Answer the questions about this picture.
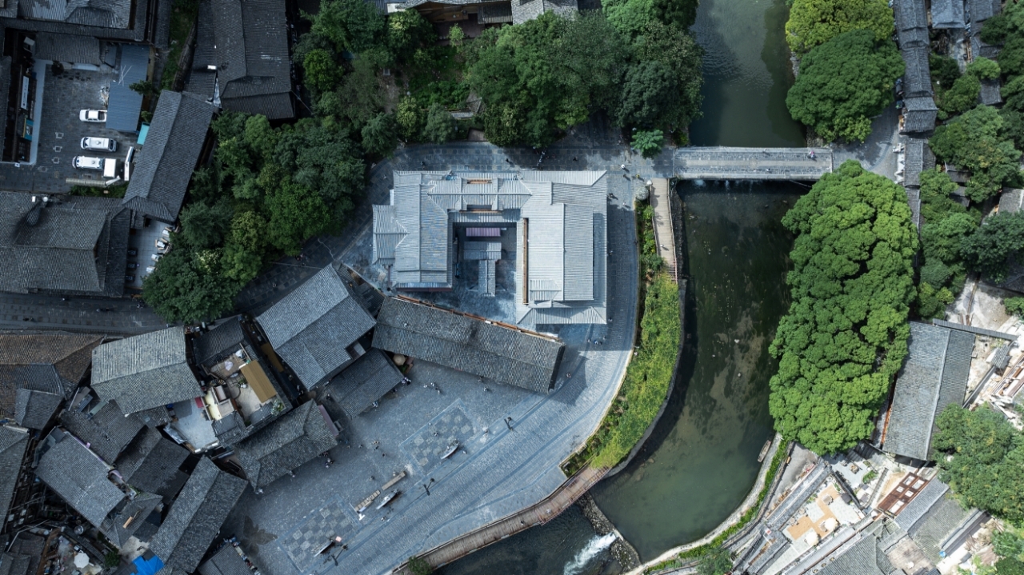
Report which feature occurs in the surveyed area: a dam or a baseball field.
dam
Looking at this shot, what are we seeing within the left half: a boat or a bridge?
boat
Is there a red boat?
No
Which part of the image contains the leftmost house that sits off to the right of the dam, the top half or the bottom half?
bottom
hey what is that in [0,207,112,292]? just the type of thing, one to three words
house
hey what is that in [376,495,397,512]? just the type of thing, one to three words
boat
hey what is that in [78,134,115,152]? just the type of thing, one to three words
vehicle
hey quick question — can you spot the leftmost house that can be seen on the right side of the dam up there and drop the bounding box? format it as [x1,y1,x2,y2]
[755,462,833,532]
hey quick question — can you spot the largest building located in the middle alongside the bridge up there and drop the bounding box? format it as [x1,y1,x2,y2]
[372,169,607,325]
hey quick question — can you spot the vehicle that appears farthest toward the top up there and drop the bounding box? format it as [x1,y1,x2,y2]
[76,106,107,123]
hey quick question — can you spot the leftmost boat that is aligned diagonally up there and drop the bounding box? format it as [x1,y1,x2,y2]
[312,544,331,560]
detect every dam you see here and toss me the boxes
[575,490,639,570]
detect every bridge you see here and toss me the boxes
[673,144,834,178]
